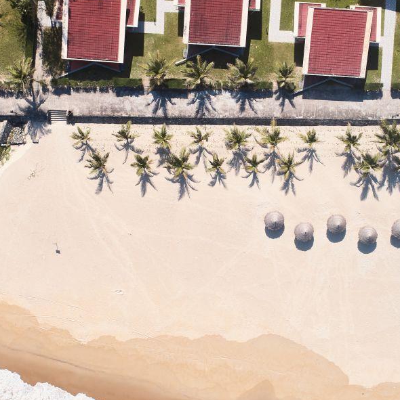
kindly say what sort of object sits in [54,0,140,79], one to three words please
house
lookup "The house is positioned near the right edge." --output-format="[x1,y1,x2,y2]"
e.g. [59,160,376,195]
[290,1,382,98]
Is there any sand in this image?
Yes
